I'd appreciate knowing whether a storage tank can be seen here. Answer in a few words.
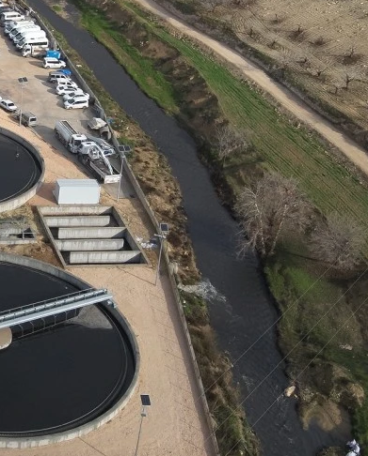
Yes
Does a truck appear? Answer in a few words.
Yes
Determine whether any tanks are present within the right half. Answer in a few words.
No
